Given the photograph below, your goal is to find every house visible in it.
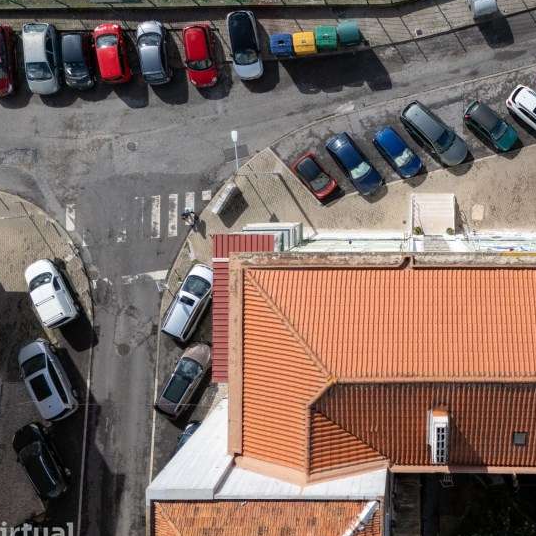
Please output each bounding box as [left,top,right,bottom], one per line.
[227,230,536,492]
[154,468,391,536]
